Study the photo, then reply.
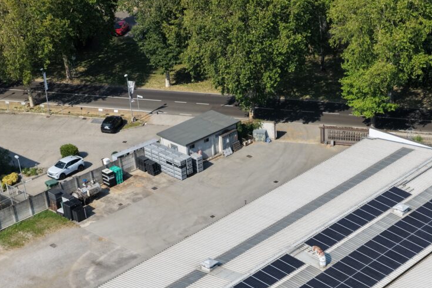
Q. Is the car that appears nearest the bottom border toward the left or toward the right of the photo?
left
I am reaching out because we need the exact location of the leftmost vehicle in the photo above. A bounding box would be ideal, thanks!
[46,153,86,179]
